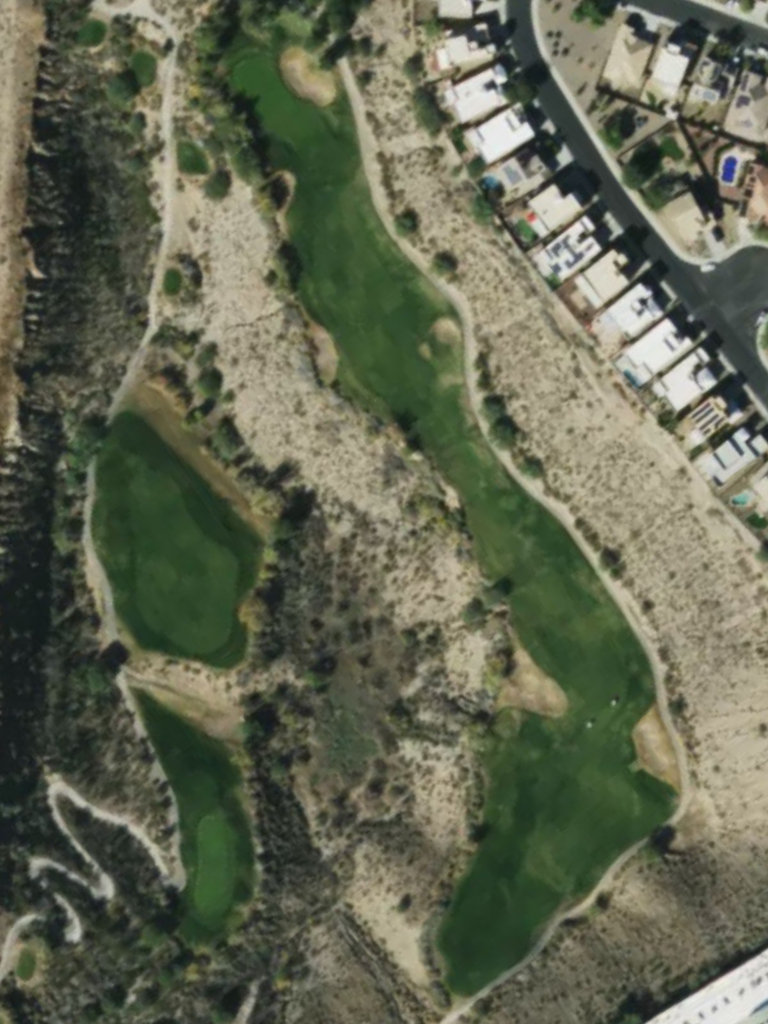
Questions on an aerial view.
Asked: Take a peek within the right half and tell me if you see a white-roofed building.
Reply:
Yes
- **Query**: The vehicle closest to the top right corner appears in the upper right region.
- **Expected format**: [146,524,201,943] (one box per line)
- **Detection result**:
[712,226,724,242]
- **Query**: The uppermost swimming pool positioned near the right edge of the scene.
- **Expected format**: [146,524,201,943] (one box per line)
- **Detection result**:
[721,154,739,183]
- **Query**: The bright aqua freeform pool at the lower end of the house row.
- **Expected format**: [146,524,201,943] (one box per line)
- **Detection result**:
[731,490,752,506]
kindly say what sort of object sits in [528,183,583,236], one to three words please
house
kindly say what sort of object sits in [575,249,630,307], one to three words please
house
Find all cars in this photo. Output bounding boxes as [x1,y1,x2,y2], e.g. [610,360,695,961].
[756,310,768,325]
[700,264,715,271]
[712,226,724,242]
